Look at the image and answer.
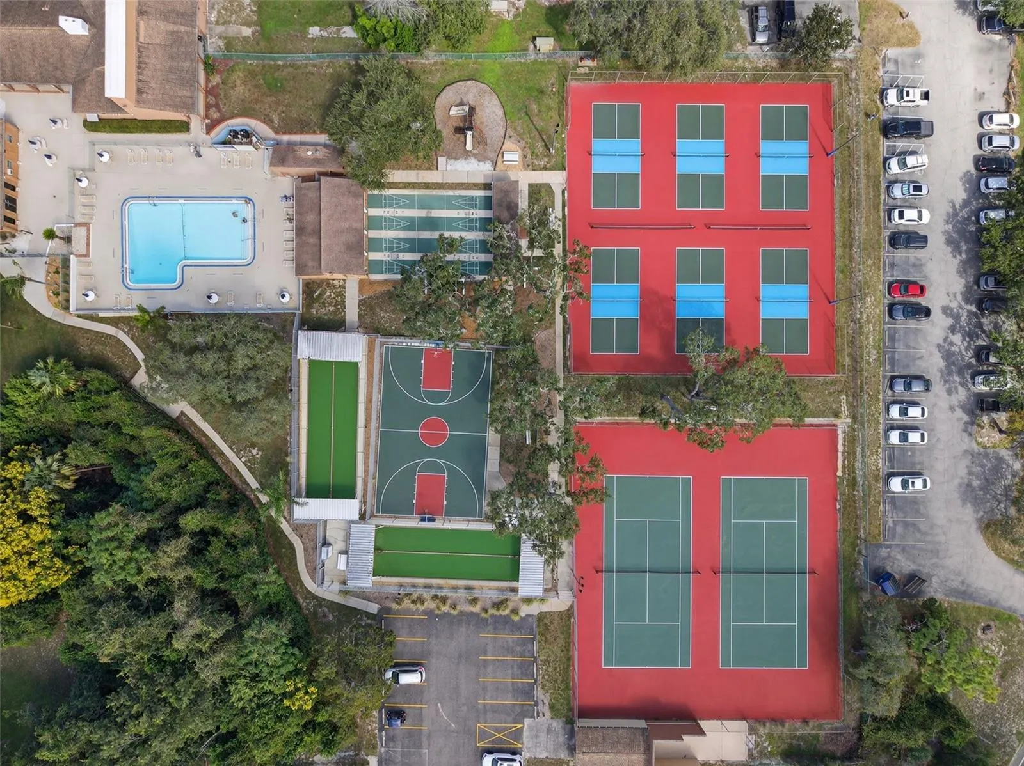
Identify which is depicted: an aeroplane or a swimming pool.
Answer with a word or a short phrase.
swimming pool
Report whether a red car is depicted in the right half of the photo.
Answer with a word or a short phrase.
Yes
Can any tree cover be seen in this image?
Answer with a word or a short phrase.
Yes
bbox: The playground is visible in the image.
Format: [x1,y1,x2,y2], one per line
[448,99,487,149]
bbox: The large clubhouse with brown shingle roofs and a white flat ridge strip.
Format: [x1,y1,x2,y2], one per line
[0,0,207,121]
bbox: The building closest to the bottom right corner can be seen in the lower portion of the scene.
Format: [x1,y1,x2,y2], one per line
[647,719,707,766]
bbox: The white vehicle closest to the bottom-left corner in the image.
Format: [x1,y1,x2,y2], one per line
[387,665,423,686]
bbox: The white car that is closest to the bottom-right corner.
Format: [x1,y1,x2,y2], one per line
[889,475,929,494]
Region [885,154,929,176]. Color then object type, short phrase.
white car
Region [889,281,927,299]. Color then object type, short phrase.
red car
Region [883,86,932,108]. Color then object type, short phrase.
white truck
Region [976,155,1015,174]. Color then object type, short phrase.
black car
